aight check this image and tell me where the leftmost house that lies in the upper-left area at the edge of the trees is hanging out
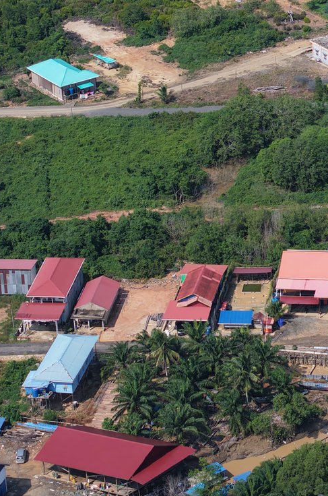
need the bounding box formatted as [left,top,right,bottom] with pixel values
[27,54,96,97]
